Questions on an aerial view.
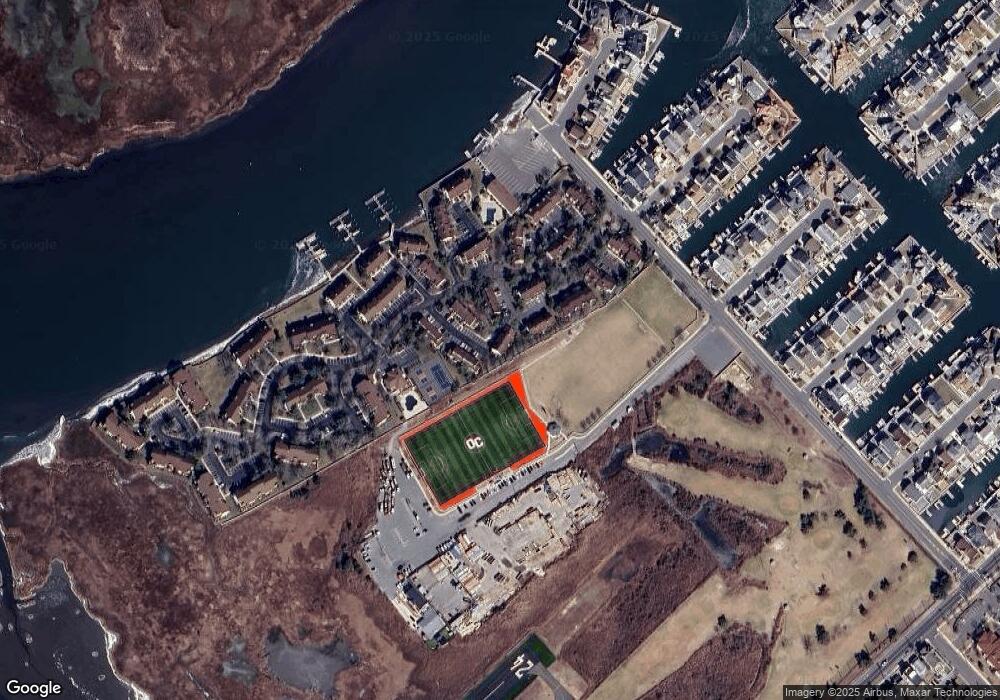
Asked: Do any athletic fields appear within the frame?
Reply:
Yes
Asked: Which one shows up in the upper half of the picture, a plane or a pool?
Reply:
pool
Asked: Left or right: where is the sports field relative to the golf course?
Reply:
on the left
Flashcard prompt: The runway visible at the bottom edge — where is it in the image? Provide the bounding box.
[458,630,557,700]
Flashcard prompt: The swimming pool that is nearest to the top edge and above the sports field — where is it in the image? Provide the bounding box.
[480,197,507,228]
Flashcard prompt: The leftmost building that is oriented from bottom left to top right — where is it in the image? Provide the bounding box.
[131,381,177,419]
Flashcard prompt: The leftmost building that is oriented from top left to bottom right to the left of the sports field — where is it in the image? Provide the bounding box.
[104,410,147,452]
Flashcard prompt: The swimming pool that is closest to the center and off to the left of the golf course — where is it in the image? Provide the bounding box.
[395,388,430,420]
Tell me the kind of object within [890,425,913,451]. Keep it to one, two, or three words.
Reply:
house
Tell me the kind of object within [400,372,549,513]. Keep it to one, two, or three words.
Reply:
sports field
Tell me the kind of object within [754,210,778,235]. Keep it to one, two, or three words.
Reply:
house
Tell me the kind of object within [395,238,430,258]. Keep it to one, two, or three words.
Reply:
building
